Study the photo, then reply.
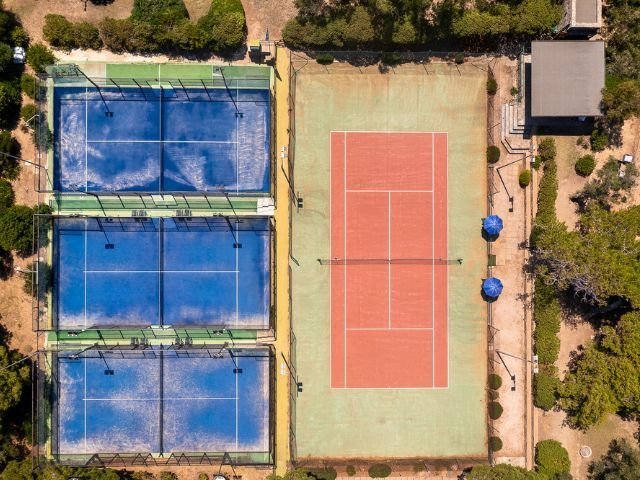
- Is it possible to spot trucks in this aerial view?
No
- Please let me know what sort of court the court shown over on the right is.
tennis court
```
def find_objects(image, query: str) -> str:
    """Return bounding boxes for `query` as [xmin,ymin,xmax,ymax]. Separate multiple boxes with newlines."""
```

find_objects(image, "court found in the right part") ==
[292,59,488,458]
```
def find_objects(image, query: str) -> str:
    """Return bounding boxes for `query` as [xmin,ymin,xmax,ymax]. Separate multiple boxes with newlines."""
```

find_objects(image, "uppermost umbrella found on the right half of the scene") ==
[482,214,503,234]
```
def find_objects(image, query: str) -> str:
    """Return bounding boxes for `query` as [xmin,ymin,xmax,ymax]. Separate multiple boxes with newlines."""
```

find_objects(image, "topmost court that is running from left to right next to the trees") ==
[51,86,271,195]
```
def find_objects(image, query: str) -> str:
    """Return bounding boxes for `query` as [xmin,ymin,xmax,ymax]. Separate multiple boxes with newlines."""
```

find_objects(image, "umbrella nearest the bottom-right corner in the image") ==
[482,277,502,297]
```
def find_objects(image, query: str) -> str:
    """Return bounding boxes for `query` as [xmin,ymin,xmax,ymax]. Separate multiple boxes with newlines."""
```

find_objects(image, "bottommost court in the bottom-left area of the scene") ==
[51,344,271,455]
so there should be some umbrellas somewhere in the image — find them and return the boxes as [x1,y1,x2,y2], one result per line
[482,214,503,234]
[482,277,502,297]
